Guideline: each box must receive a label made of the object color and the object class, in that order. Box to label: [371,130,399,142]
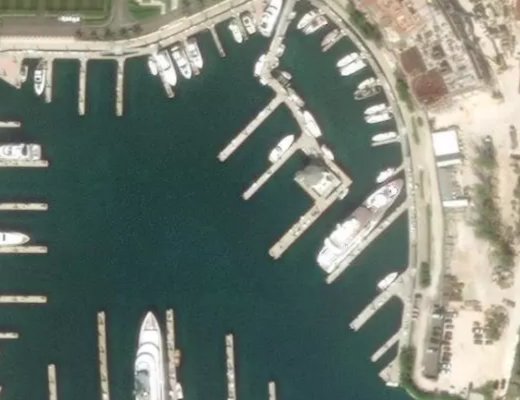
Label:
white boat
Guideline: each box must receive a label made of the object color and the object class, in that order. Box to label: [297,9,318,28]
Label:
white boat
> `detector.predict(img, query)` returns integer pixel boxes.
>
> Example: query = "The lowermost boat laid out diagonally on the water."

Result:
[376,273,398,291]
